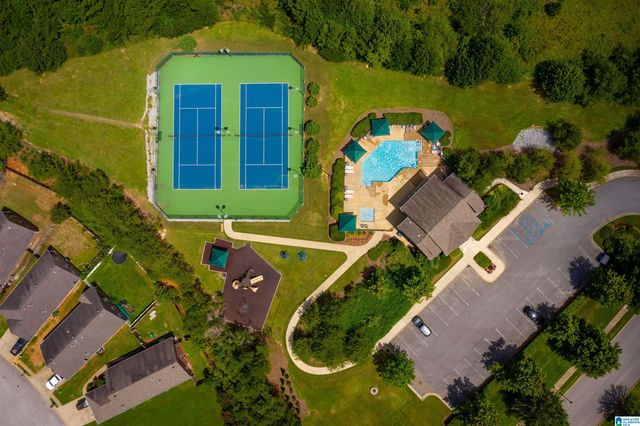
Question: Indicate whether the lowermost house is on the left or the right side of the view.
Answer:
left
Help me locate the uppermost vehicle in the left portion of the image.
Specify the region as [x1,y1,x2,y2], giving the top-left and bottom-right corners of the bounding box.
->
[8,341,29,356]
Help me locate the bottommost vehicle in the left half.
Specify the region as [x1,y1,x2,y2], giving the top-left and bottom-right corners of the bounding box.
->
[71,397,88,411]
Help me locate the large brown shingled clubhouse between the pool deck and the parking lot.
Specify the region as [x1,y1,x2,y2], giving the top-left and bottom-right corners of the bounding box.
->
[397,171,486,260]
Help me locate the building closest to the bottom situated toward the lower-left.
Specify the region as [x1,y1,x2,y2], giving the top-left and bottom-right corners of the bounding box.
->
[84,334,194,422]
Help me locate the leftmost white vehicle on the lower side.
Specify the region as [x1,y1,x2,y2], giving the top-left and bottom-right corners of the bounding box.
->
[43,375,62,391]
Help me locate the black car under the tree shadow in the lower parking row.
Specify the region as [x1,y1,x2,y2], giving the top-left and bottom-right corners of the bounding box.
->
[521,305,541,325]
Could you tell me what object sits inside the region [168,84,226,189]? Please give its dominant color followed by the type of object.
blue tennis court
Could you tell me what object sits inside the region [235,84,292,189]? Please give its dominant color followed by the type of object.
blue tennis court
